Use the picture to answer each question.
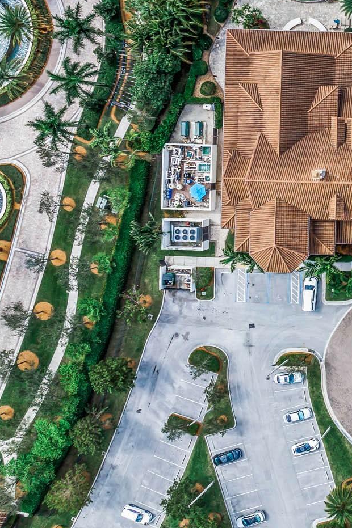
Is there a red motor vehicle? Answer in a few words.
No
